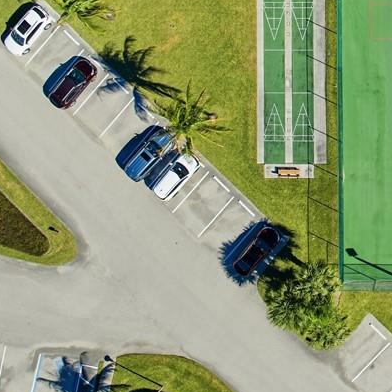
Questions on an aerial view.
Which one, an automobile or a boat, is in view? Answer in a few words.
automobile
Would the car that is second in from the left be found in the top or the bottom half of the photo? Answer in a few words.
top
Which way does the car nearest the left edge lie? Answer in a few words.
at an angle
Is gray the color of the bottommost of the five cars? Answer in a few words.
No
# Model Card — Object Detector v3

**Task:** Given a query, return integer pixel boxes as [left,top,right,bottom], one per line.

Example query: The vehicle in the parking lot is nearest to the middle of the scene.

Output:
[153,153,201,204]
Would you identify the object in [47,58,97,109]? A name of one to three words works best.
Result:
car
